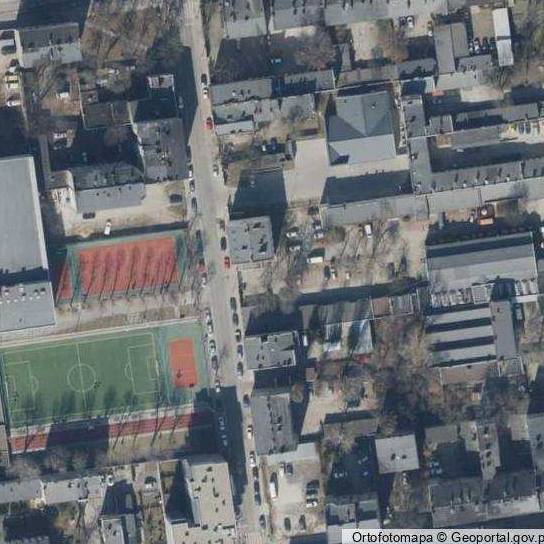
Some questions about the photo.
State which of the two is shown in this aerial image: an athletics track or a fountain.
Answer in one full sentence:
I can see an athletics track in this picture.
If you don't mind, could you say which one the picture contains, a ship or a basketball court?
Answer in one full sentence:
Visible in the photo is a basketball court.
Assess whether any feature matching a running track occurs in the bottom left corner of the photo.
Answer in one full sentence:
Yes, a running track is visible in the bottom left corner of the photo.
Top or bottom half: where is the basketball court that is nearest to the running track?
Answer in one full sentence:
Seen from above, the basketball court that is nearest to the running track lies in the bottom half of the view.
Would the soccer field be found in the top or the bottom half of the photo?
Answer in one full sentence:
The soccer field sits in the bottom half of the picture.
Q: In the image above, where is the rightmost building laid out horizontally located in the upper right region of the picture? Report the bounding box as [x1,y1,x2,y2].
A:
[502,102,539,122]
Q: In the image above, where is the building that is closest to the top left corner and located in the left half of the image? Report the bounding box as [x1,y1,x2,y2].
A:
[17,22,82,70]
